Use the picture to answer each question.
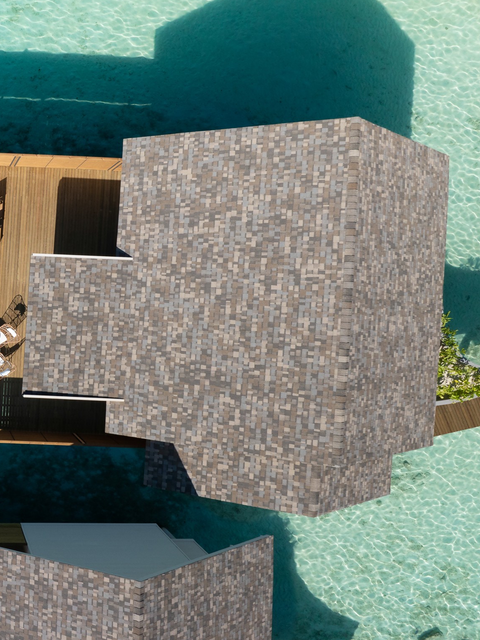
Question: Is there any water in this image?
Yes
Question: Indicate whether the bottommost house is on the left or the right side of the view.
left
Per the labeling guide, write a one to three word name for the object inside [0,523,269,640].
house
